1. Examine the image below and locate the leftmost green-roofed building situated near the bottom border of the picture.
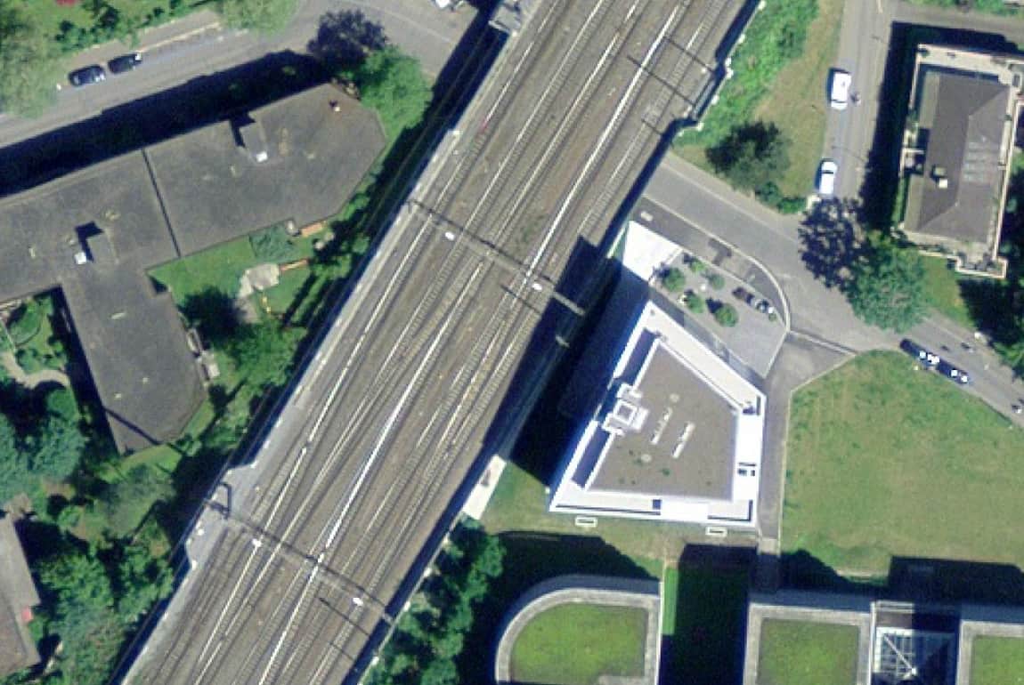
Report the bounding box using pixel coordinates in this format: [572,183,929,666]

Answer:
[488,565,661,685]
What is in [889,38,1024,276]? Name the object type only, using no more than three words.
house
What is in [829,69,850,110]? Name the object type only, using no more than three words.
vehicle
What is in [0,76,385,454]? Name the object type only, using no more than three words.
building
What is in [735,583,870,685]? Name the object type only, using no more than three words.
building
